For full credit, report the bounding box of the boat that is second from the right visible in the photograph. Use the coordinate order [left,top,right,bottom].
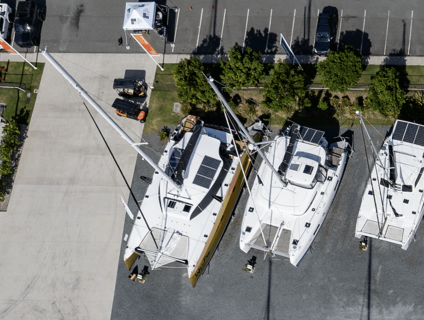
[207,75,349,259]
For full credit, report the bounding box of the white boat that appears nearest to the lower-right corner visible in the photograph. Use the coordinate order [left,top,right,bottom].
[355,110,424,248]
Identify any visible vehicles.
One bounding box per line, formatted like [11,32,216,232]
[11,0,44,50]
[111,97,154,127]
[312,7,339,56]
[0,0,12,39]
[112,78,153,102]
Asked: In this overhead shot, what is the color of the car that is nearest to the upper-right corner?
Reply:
black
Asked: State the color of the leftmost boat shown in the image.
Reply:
white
